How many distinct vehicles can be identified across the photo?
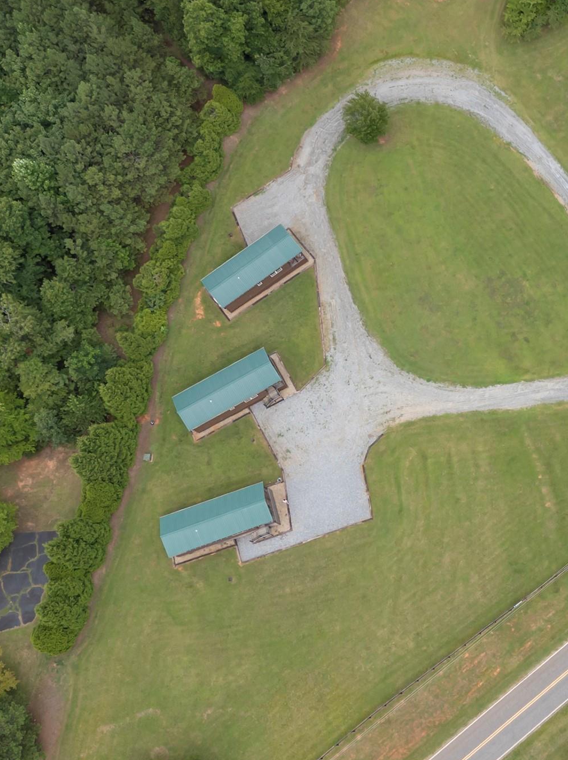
0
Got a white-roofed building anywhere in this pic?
No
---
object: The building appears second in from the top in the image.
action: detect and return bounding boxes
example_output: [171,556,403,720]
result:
[175,348,286,432]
